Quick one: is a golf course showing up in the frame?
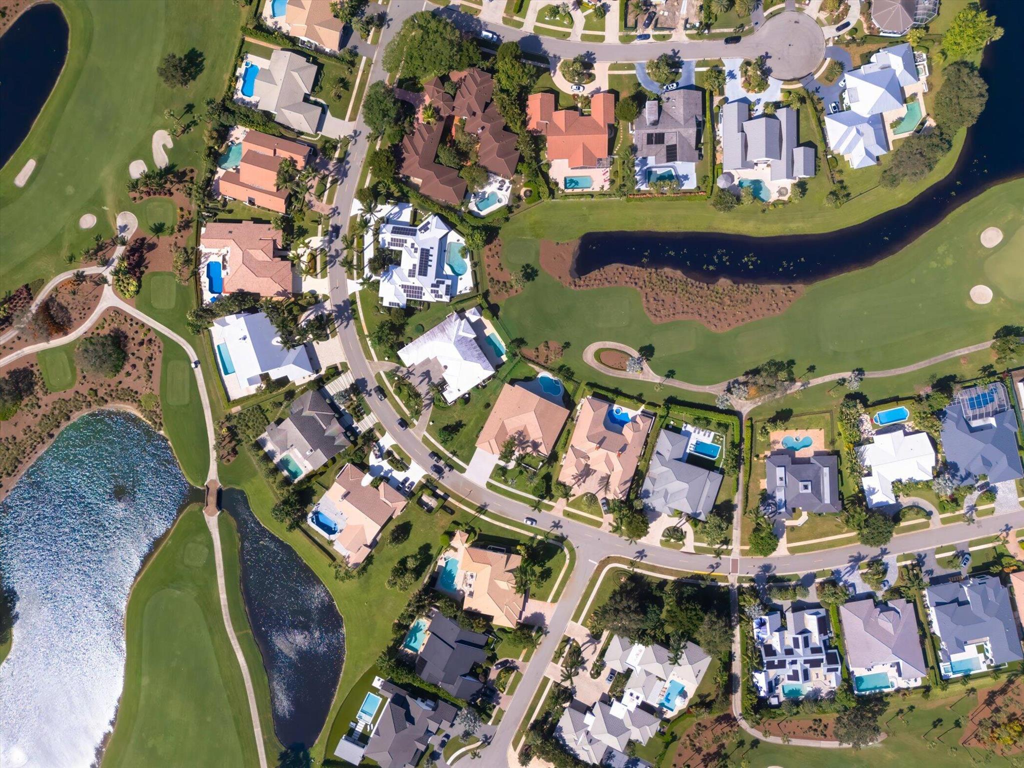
Yes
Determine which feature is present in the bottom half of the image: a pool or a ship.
pool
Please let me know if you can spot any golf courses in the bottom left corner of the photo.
Yes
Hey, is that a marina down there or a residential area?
residential area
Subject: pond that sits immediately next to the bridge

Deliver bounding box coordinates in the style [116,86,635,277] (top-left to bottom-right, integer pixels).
[218,487,345,748]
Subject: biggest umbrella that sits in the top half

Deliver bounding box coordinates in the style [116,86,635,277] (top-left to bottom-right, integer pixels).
[717,172,734,189]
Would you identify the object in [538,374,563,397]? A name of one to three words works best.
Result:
swimming pool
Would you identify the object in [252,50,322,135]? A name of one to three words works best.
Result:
house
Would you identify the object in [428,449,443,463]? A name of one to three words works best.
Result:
vehicle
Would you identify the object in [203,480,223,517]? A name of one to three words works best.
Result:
bridge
